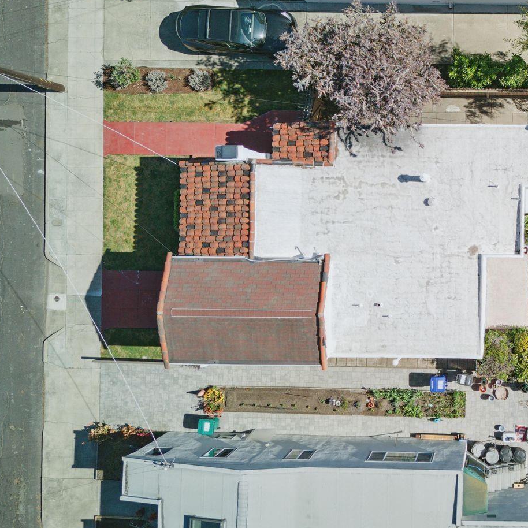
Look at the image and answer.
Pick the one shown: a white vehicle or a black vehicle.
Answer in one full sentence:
There is a black vehicle in the scene.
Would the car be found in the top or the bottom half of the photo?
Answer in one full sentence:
The top half of the photo is where the car is.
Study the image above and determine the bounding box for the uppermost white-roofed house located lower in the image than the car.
[149,124,528,373]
